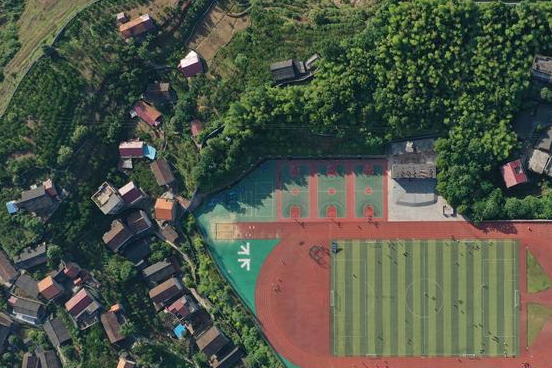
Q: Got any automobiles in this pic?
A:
No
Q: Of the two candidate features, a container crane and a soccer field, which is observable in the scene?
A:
soccer field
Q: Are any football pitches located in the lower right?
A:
Yes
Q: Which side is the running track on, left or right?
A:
right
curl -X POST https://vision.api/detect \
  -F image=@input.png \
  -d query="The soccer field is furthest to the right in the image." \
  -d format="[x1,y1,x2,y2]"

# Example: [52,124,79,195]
[332,241,520,357]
